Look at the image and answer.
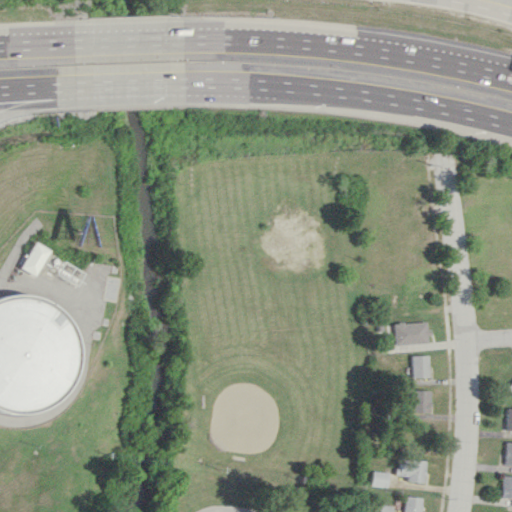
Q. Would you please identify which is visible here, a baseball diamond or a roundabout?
baseball diamond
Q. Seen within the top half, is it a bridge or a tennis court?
bridge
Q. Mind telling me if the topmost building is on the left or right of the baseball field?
to its left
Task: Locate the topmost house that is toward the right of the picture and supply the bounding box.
[394,322,432,346]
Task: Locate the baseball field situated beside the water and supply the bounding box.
[178,153,360,505]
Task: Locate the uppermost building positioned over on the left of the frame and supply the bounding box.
[21,242,52,276]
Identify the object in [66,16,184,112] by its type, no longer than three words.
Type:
bridge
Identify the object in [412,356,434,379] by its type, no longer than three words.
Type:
house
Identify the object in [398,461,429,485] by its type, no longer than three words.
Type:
house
